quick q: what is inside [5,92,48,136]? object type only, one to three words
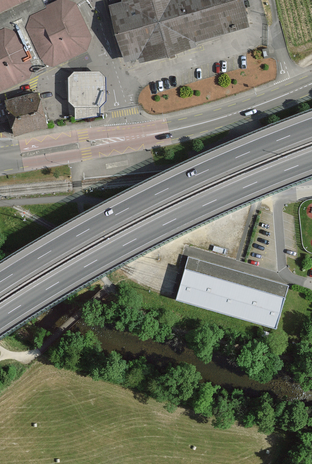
house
